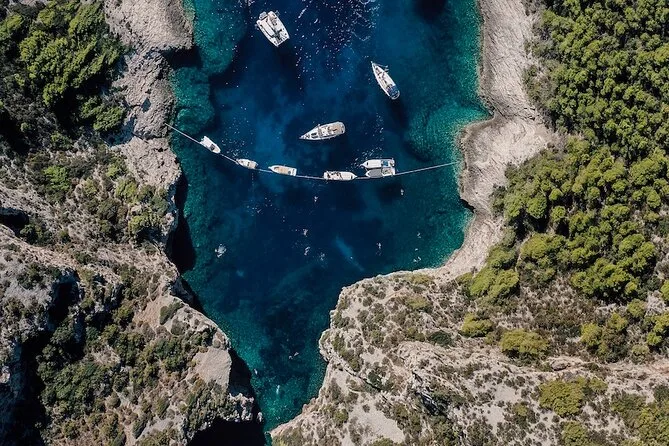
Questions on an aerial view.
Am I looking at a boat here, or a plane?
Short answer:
boat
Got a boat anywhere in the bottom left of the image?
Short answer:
No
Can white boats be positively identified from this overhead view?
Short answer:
Yes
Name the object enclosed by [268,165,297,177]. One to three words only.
boat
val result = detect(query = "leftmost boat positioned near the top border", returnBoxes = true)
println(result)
[253,5,291,48]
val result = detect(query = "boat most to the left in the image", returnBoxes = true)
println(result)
[200,136,220,153]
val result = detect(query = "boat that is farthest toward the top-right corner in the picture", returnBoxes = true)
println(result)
[372,61,400,100]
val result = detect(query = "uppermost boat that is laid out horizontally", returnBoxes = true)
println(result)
[301,121,347,138]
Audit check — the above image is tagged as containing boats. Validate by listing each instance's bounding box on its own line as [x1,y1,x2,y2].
[268,165,297,177]
[237,159,259,169]
[372,61,400,100]
[253,5,291,48]
[200,136,220,153]
[366,167,397,178]
[301,121,347,138]
[321,170,357,180]
[361,158,397,168]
